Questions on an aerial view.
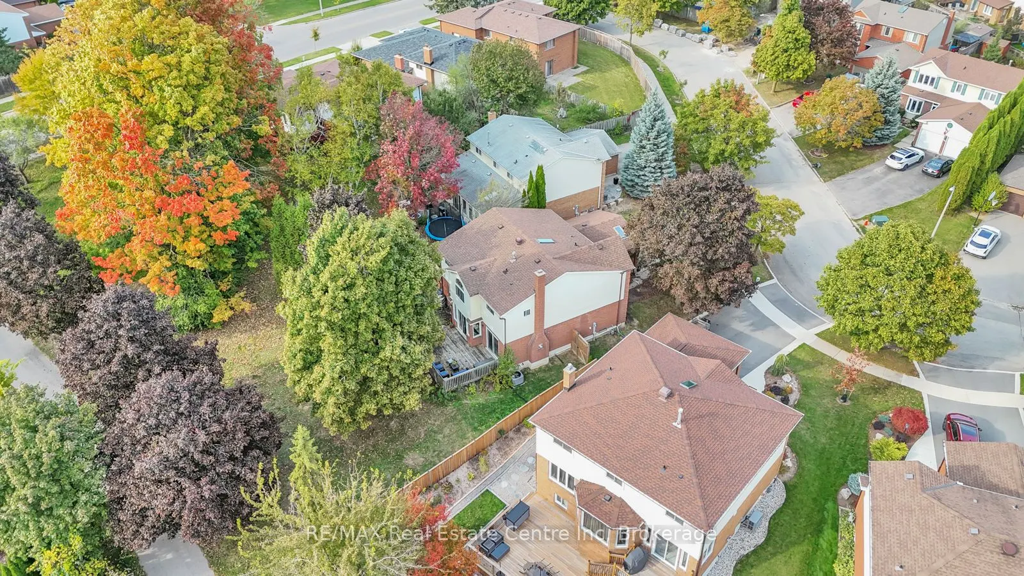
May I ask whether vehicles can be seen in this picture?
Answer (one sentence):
Yes, a vehicle is visible in the scene.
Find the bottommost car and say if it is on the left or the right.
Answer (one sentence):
The bottommost car is on the right side of the image.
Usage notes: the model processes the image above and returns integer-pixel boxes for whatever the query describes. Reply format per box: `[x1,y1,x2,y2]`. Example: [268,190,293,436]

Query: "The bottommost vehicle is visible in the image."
[946,412,988,440]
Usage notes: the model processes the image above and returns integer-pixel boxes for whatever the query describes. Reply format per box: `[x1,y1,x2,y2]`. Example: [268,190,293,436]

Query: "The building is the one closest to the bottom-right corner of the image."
[854,436,1024,576]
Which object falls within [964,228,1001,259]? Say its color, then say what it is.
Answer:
white car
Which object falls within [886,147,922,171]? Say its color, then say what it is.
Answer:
white car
